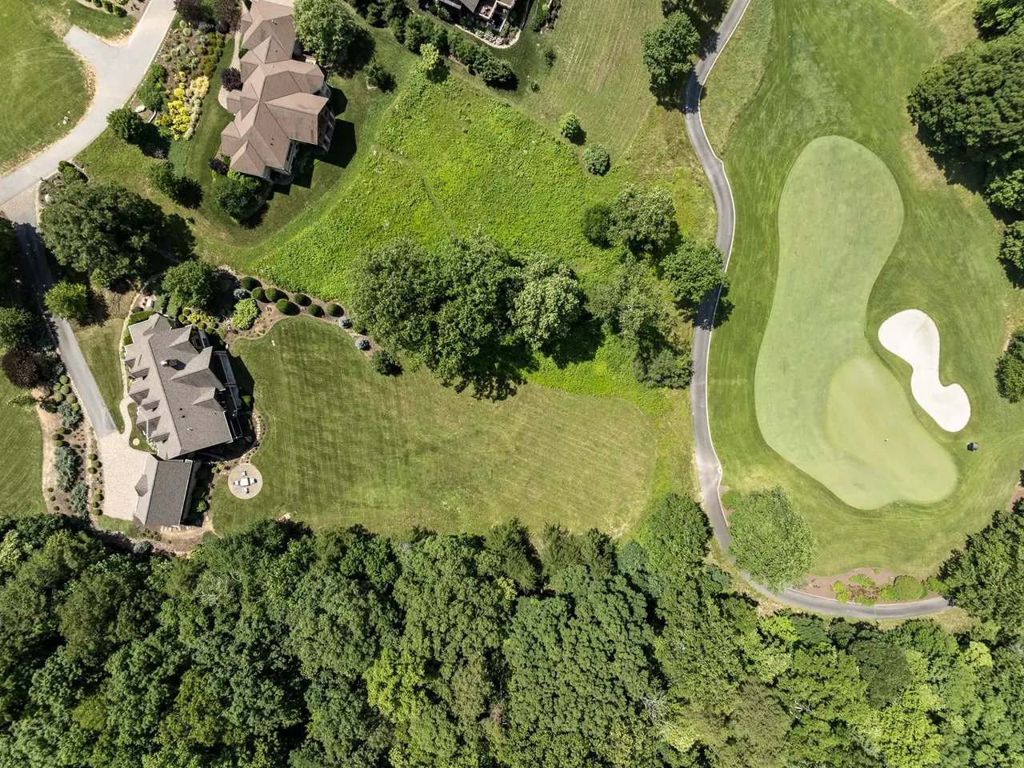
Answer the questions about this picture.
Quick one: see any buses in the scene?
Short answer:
No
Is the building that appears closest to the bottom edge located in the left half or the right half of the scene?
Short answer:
left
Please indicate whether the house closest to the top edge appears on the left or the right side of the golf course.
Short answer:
to the left of it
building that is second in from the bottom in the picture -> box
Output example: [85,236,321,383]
[124,314,245,459]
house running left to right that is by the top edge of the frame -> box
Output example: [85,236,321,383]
[439,0,516,32]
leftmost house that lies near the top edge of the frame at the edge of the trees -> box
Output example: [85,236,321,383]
[221,0,334,187]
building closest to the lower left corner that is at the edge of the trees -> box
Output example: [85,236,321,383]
[133,454,197,528]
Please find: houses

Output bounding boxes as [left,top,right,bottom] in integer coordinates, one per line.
[124,314,245,459]
[439,0,516,32]
[221,0,334,187]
